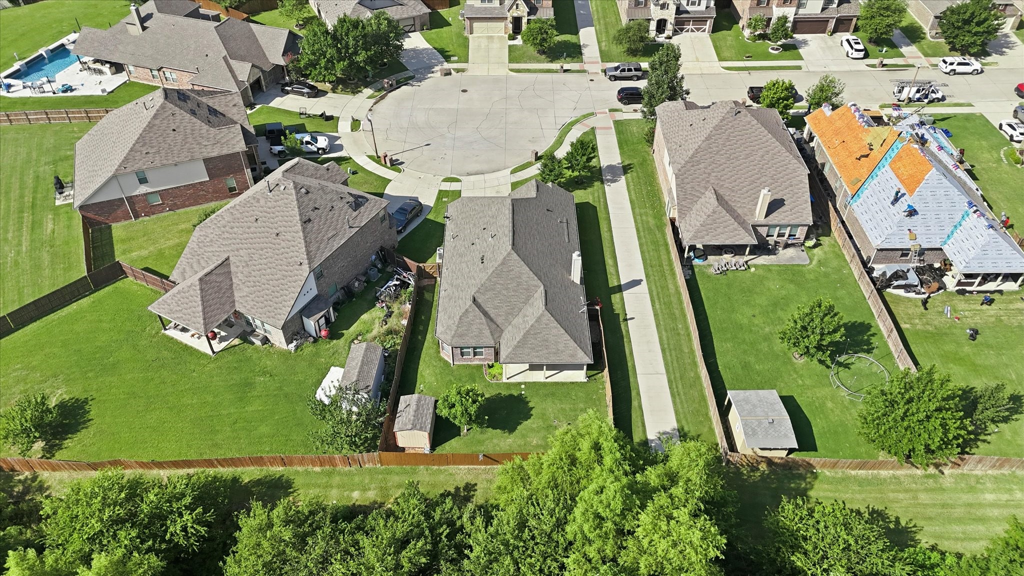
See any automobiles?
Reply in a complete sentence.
Yes, the photo shows an automobile.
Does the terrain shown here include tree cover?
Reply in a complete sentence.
Yes, tree cover can be seen from above here.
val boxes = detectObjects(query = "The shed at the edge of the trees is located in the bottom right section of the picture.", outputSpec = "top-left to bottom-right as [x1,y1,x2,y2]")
[726,390,798,455]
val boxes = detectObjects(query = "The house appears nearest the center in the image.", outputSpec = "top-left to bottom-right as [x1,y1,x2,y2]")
[434,175,593,382]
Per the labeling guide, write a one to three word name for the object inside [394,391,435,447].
shed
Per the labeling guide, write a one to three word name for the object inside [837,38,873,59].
car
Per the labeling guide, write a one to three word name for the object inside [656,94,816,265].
house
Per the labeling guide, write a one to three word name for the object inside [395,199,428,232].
car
